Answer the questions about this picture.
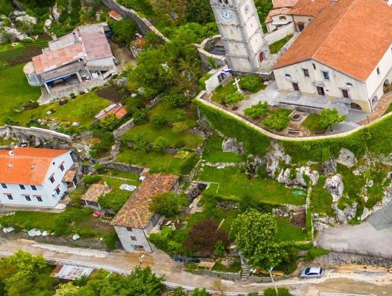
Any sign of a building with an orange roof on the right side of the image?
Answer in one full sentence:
Yes, the scene does show a building with an orange roof on the right side of the image.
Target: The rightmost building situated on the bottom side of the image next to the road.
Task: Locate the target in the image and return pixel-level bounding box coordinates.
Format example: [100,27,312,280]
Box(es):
[110,165,186,262]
